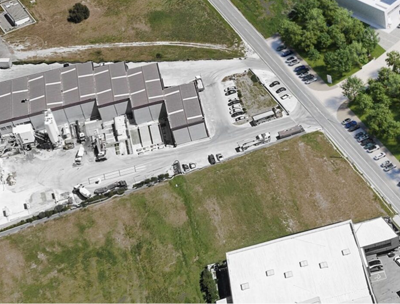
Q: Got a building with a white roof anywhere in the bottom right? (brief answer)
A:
Yes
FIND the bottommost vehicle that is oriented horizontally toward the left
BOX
[92,177,131,195]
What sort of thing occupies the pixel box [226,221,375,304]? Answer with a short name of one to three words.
building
